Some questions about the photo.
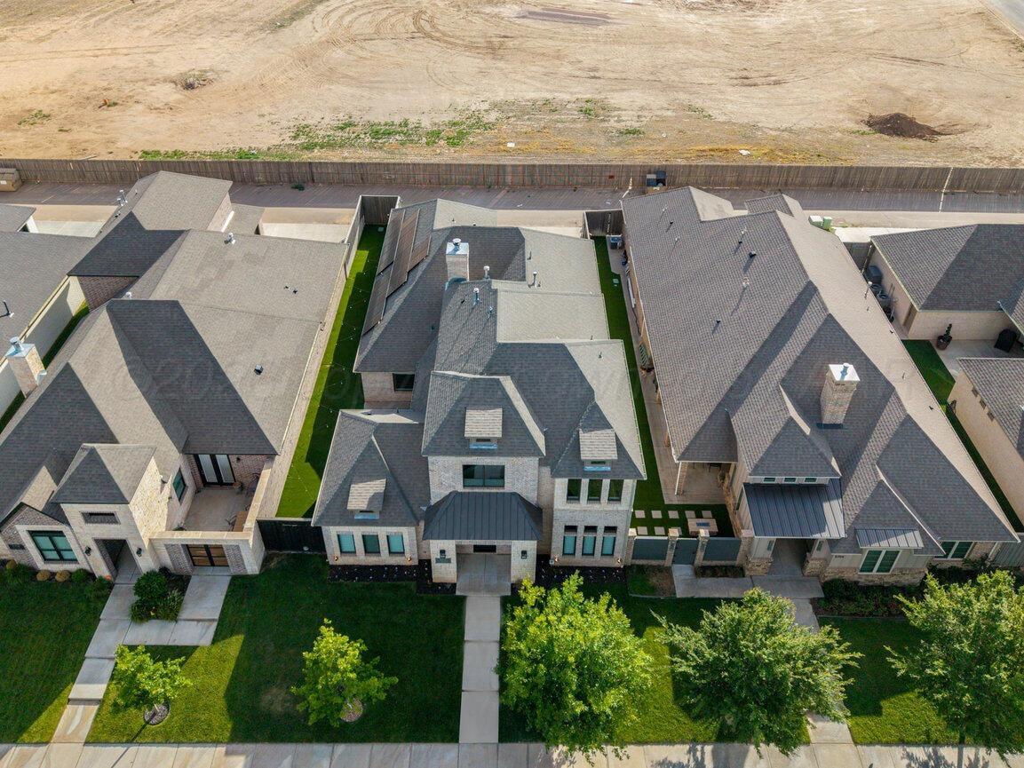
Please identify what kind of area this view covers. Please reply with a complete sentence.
This looks like a residential area.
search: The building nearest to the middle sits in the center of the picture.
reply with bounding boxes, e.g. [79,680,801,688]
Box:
[310,198,650,582]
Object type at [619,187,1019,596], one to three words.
house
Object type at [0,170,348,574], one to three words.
house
